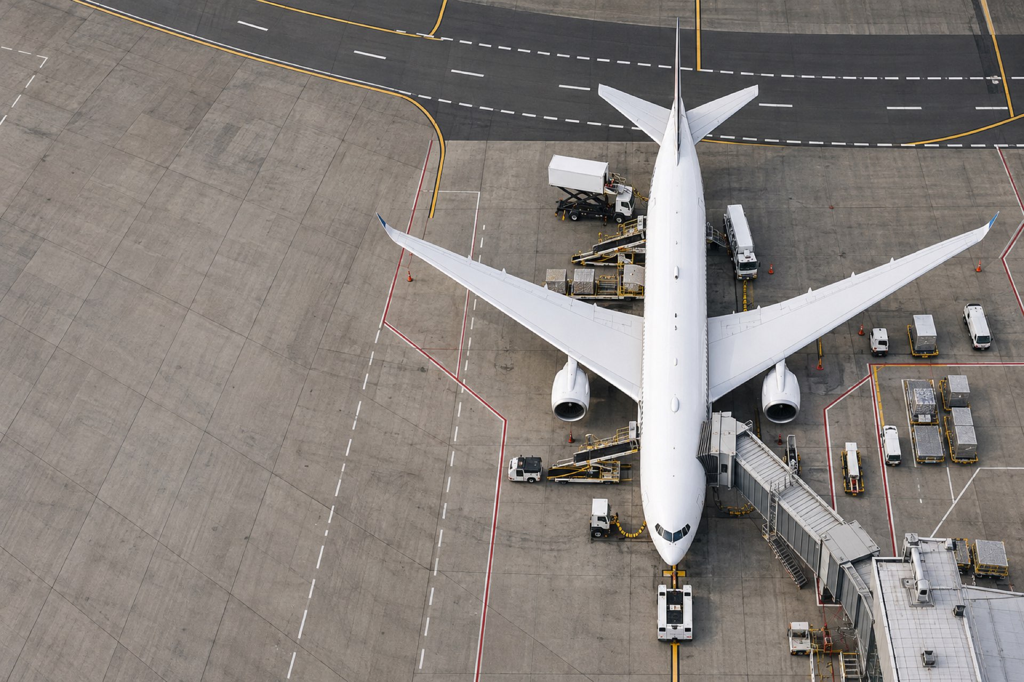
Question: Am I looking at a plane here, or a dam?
plane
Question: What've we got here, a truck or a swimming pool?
truck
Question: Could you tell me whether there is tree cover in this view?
No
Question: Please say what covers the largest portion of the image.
paved ground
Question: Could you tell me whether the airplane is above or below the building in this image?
above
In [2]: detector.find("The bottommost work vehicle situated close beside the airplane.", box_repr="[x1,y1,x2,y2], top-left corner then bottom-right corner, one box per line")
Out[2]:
[658,586,692,642]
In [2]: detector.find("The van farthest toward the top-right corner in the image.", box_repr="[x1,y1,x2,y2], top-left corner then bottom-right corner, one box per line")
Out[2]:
[962,301,994,348]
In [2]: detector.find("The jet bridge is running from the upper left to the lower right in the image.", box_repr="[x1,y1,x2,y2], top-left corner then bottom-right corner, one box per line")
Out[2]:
[699,411,884,665]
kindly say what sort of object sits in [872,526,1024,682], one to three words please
building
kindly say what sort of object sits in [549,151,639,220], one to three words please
truck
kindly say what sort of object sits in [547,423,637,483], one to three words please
work vehicle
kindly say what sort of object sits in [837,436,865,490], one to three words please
trailer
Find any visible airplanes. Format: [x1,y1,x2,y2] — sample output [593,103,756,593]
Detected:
[378,20,998,564]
